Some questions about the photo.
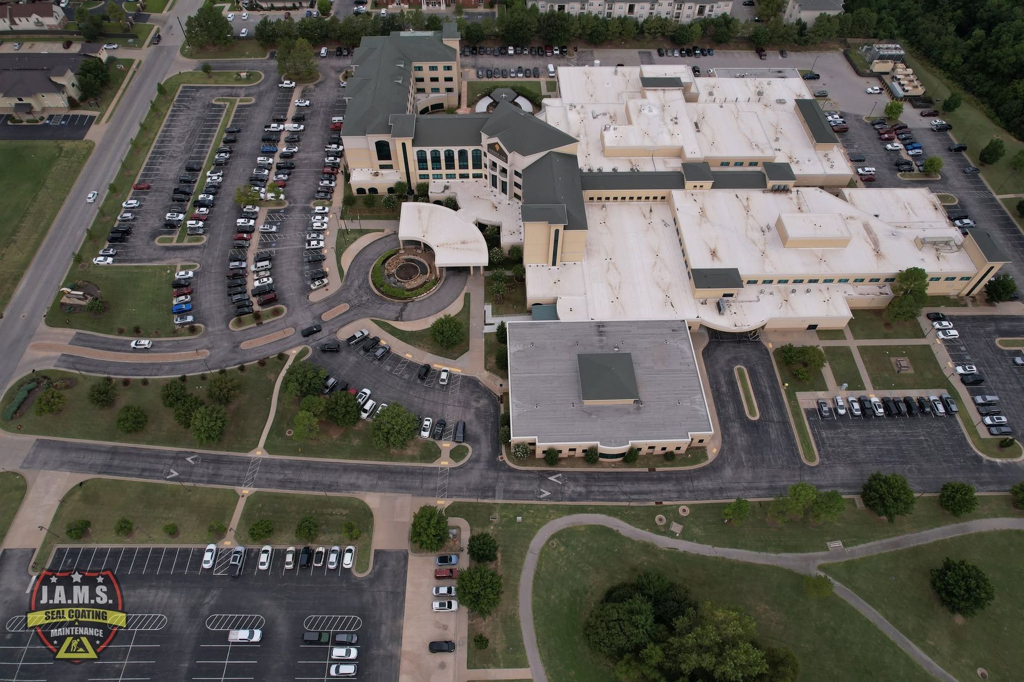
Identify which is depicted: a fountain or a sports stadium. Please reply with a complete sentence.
The one in the frame is a fountain.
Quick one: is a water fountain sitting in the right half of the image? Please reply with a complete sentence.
No, no water fountain can be made out in the right half of the image.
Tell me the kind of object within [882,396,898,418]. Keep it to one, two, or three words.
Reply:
vehicle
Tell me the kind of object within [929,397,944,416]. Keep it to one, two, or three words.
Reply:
car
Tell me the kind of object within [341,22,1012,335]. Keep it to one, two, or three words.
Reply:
building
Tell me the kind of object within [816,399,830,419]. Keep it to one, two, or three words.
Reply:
car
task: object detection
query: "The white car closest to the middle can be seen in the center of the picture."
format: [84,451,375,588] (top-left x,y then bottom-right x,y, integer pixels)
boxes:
[438,368,450,386]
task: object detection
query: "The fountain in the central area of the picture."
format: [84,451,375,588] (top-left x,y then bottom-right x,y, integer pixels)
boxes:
[385,256,435,301]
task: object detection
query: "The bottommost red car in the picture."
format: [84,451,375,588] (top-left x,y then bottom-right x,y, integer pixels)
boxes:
[434,567,460,581]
